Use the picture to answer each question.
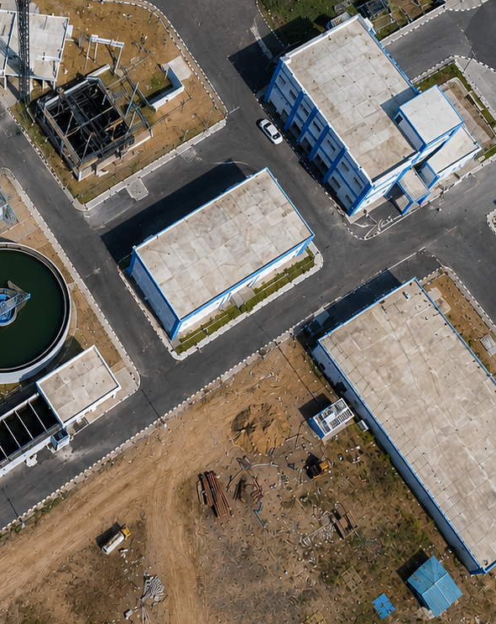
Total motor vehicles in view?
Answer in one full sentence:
The number of motor vehicles here is 3.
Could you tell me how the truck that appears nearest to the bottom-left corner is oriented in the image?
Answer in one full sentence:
I'd say the truck that appears nearest to the bottom-left corner is aligned on a diagonal in the picture.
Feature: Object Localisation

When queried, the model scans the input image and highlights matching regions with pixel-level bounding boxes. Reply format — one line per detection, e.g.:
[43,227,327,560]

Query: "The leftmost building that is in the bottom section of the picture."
[37,347,122,430]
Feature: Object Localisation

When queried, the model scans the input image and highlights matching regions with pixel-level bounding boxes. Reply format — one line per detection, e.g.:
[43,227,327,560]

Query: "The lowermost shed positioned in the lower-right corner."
[401,557,463,617]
